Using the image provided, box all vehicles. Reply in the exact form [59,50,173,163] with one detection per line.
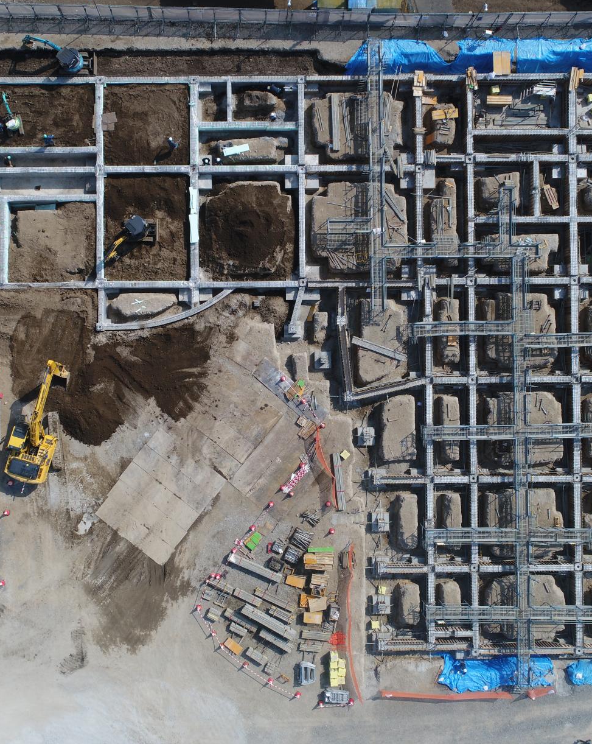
[0,356,76,486]
[23,29,94,76]
[0,88,33,137]
[104,214,165,270]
